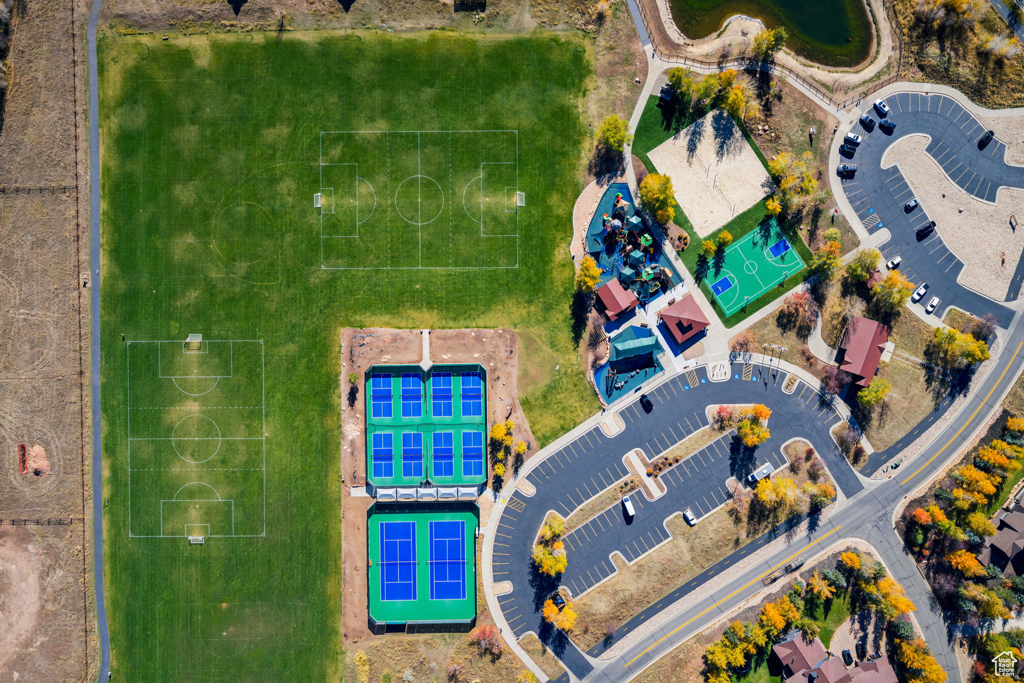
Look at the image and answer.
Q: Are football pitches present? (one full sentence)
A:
Yes, there is a football pitch in the image.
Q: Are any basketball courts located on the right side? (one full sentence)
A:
Yes, a basketball court can be seen on the right side.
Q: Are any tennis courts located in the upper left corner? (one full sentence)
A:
No, looking in the upper left corner, there is no tennis court.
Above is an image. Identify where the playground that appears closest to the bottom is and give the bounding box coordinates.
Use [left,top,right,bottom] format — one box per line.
[594,325,665,405]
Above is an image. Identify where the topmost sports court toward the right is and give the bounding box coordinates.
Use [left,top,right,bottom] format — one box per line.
[647,106,778,238]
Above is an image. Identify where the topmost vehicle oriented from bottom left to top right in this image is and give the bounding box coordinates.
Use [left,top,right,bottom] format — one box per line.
[978,130,993,147]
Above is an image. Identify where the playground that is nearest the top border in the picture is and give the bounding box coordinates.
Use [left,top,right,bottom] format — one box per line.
[586,182,683,313]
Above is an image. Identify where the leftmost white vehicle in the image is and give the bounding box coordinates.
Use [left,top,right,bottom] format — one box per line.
[621,494,636,518]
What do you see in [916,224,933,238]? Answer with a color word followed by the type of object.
black car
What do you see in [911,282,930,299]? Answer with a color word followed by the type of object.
white car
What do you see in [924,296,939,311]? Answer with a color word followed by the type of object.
white car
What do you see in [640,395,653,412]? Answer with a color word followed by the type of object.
black vehicle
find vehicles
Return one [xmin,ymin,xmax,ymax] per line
[841,647,852,665]
[844,132,861,144]
[903,198,920,211]
[924,296,939,311]
[854,642,865,660]
[640,395,653,412]
[621,494,636,518]
[860,114,876,129]
[683,508,695,525]
[874,99,889,115]
[911,282,930,299]
[746,462,776,481]
[836,165,857,173]
[916,224,933,238]
[978,130,993,147]
[885,256,902,269]
[838,144,856,154]
[877,119,897,131]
